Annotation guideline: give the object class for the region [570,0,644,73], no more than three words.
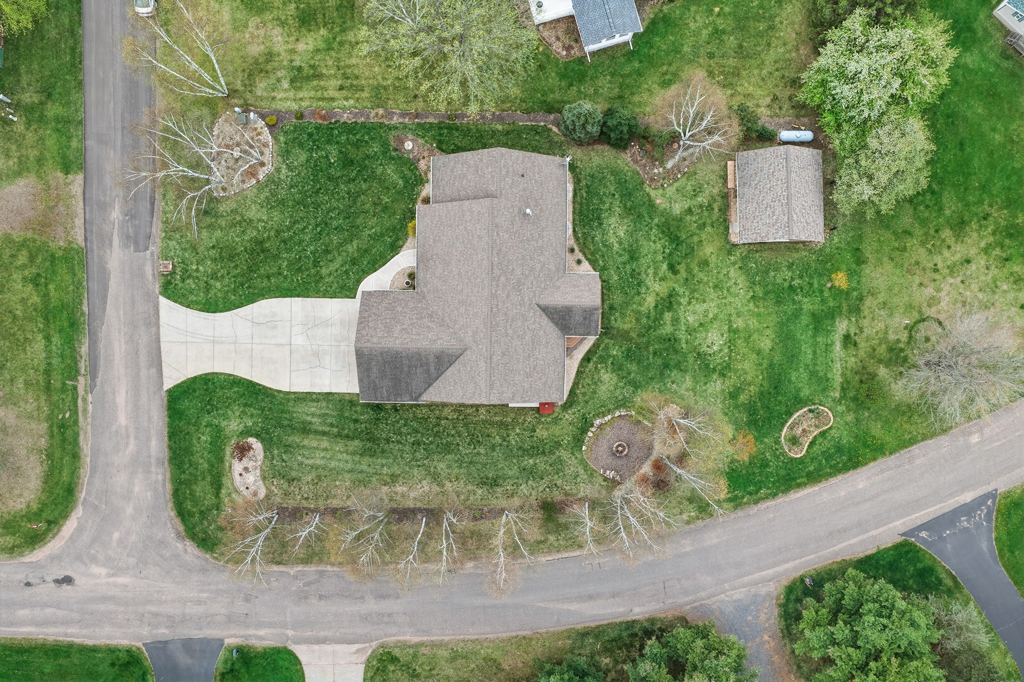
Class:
house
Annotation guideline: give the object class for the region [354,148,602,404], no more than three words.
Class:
house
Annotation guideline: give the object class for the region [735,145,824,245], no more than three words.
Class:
shed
